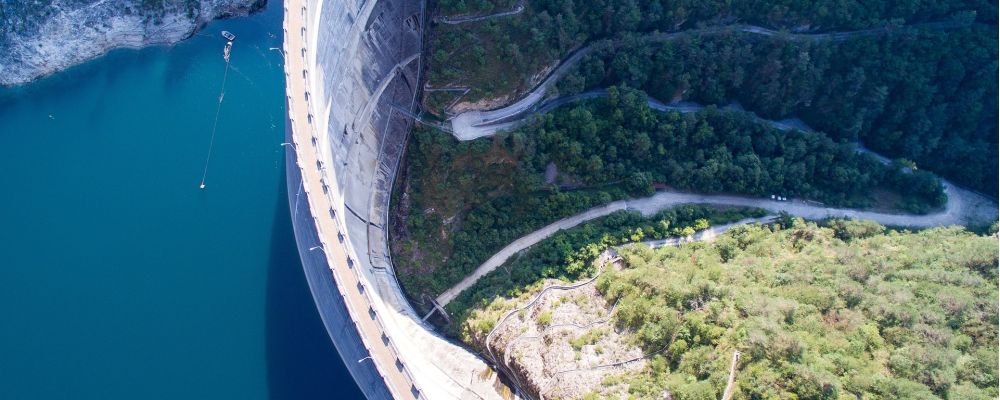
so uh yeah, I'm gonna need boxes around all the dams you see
[282,0,521,400]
